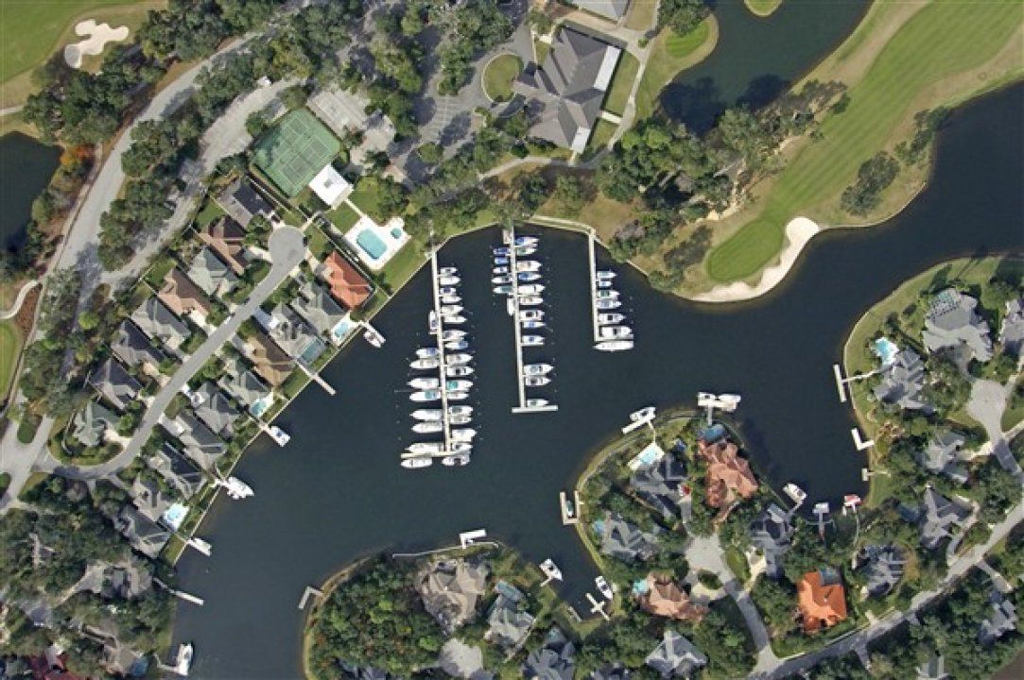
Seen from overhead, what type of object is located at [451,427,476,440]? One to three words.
boat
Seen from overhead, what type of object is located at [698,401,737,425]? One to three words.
pier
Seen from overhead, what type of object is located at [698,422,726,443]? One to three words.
swimming pool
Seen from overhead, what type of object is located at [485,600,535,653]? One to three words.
house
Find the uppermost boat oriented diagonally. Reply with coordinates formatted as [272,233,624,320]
[365,332,382,348]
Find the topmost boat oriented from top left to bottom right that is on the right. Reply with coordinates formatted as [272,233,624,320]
[783,481,806,501]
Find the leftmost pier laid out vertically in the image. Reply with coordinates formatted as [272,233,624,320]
[401,248,473,465]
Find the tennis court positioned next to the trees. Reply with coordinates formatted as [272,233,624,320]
[253,107,341,198]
